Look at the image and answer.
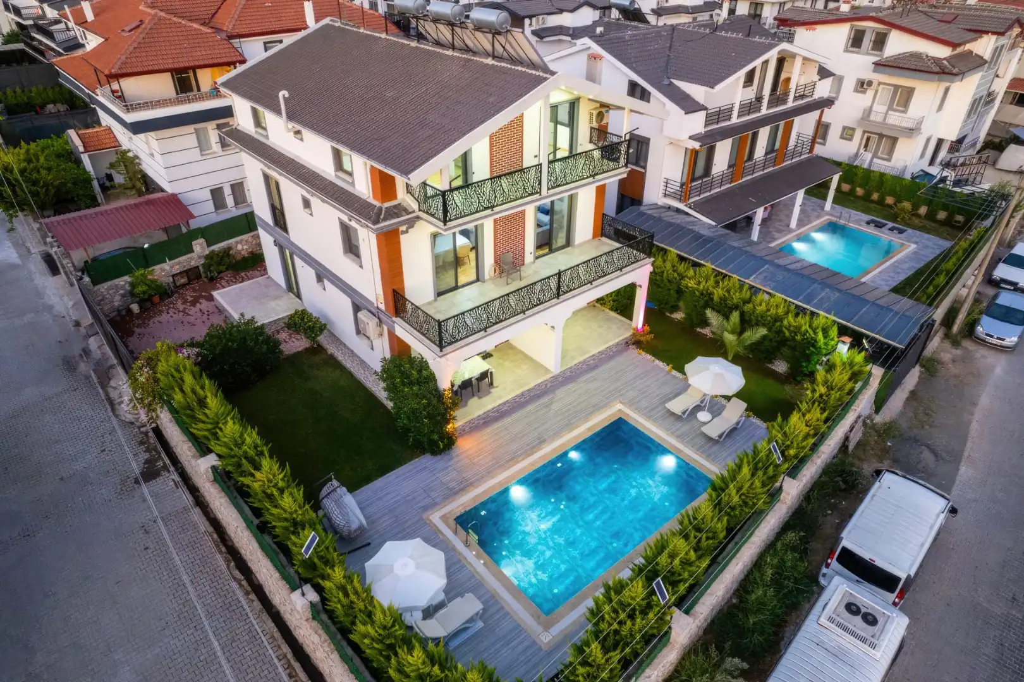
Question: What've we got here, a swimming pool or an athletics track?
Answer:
swimming pool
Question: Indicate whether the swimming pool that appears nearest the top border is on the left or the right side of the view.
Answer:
right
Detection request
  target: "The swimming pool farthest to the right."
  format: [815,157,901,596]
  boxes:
[765,216,923,283]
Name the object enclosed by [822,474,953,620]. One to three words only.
van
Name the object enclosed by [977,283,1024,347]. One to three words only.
car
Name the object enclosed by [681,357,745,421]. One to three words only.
umbrella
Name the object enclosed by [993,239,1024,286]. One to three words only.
car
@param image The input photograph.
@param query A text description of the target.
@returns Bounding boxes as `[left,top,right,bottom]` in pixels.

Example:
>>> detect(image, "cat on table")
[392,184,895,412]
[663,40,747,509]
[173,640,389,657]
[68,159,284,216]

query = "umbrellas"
[358,537,449,627]
[681,357,745,421]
